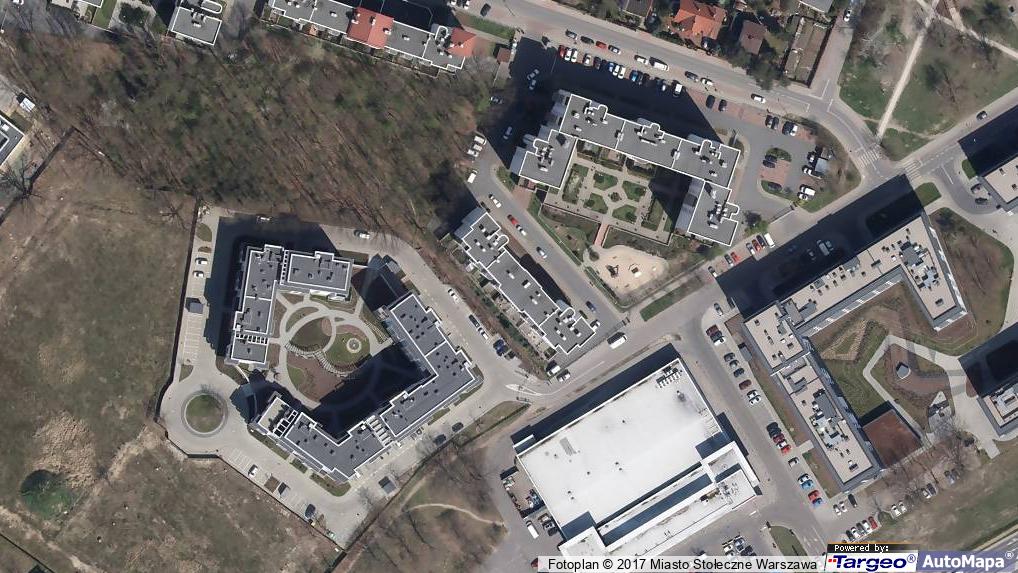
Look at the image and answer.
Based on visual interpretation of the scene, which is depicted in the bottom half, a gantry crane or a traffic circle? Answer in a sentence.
Visible in the bottom half is a traffic circle.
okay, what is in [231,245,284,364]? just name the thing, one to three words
building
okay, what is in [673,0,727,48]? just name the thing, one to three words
house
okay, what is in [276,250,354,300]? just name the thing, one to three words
building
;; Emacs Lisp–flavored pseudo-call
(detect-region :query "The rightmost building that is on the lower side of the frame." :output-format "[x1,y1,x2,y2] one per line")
[976,375,1018,435]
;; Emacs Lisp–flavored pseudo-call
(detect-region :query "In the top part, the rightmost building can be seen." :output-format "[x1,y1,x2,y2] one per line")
[978,156,1018,213]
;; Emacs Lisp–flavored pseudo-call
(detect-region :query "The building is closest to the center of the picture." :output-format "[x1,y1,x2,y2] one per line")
[454,211,595,353]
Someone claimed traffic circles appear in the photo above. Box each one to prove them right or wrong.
[181,389,229,437]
